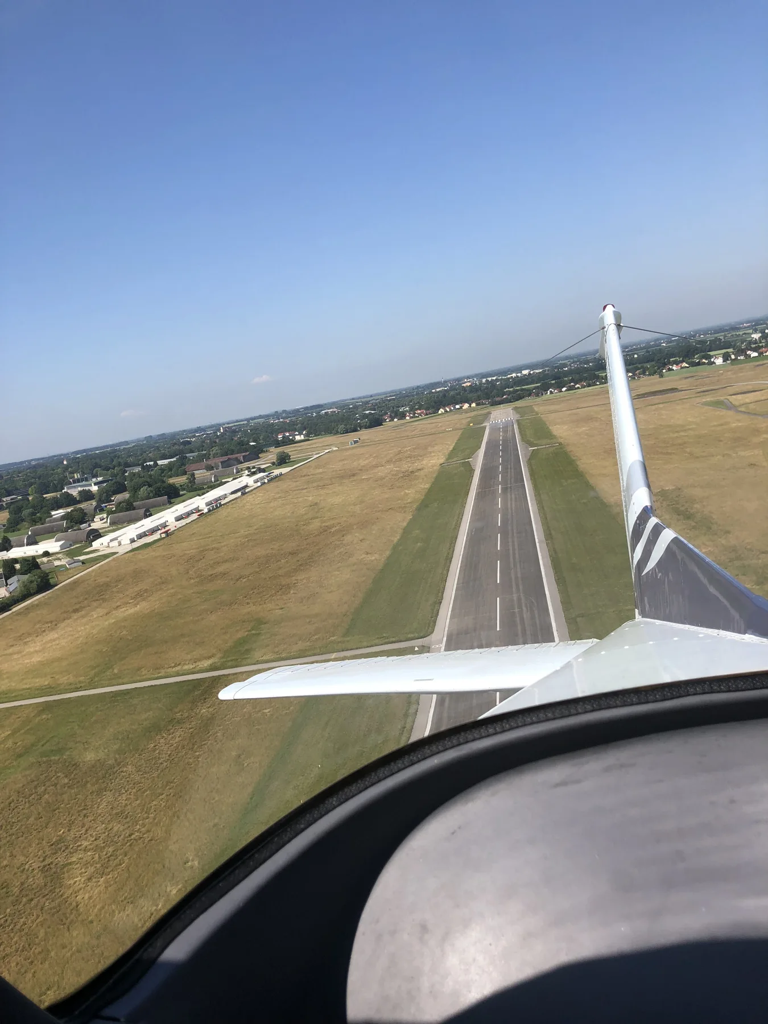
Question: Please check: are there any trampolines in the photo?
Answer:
No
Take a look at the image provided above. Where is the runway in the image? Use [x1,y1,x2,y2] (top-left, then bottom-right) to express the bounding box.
[407,407,570,742]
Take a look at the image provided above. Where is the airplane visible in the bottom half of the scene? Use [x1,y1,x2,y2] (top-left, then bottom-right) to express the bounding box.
[0,310,768,1024]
